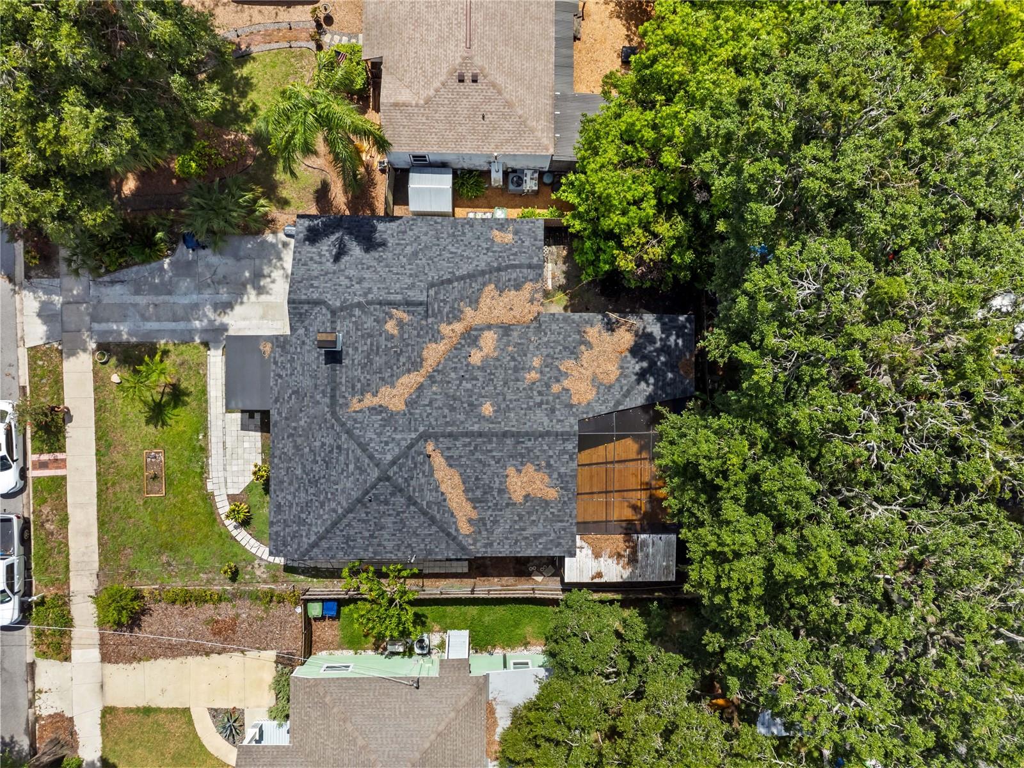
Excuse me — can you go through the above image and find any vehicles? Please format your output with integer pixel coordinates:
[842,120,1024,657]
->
[0,516,31,631]
[0,401,26,495]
